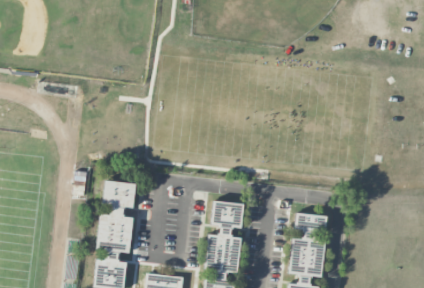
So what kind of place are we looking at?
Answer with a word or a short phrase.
sports ground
